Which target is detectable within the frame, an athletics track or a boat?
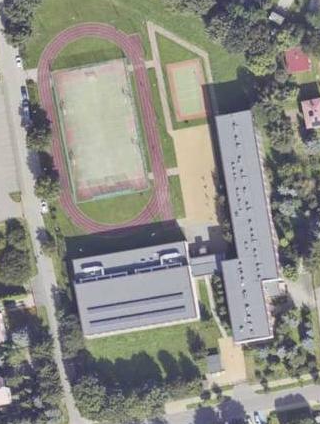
athletics track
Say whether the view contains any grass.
Yes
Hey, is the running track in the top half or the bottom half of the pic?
top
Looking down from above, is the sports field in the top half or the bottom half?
top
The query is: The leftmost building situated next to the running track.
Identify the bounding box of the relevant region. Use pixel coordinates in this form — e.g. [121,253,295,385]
[73,241,202,341]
